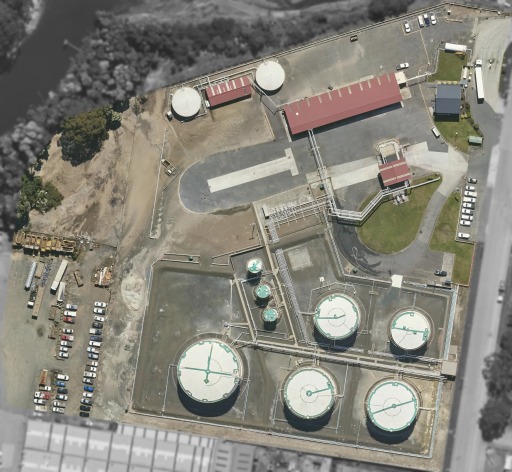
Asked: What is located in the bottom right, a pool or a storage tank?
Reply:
storage tank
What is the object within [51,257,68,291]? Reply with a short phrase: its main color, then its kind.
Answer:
white vehicle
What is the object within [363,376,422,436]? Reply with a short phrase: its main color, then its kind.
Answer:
white storage tank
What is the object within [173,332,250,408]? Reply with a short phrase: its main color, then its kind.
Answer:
white storage tank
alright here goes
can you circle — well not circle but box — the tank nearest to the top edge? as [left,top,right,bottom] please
[256,61,286,92]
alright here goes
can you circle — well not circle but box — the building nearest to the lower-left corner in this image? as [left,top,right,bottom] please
[21,419,113,472]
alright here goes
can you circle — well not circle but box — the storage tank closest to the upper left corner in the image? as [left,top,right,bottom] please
[172,86,202,118]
